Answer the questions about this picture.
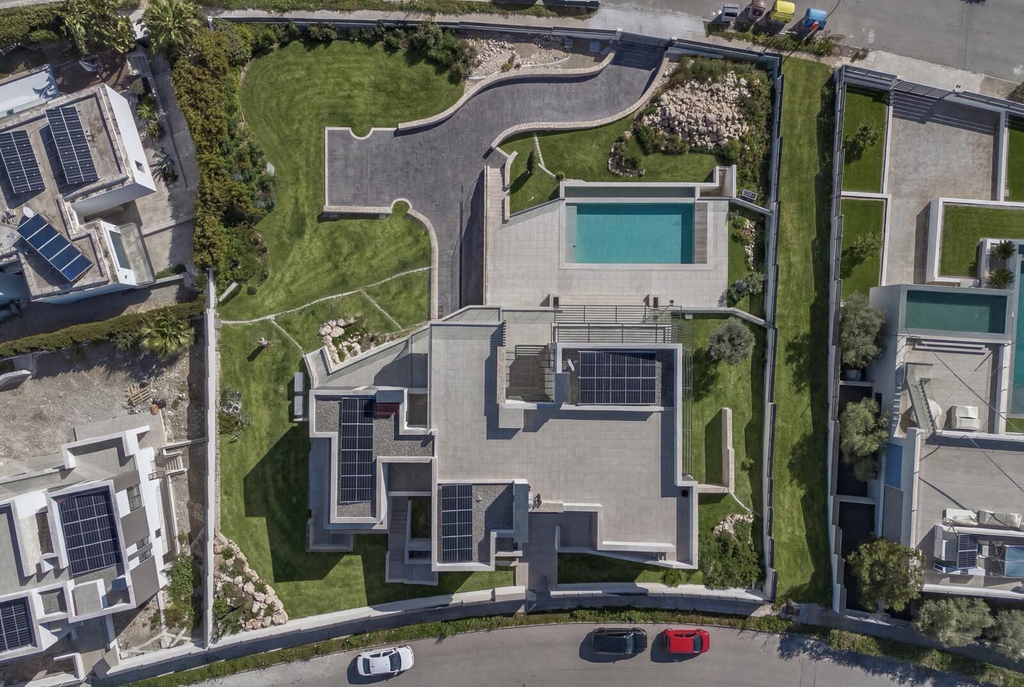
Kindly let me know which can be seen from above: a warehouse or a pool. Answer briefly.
pool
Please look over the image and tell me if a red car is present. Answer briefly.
Yes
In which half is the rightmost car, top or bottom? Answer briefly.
bottom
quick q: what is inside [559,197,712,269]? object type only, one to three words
swimming pool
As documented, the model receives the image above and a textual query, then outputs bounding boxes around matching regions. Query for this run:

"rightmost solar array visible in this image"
[999,541,1024,578]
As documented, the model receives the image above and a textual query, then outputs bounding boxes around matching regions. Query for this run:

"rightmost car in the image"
[662,625,709,654]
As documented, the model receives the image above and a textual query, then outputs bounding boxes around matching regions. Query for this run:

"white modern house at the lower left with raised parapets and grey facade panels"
[0,424,178,656]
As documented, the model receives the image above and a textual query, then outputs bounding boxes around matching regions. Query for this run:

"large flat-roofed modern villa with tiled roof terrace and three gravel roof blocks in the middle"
[305,308,698,591]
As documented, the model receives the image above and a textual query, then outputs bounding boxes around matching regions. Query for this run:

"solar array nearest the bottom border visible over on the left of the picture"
[0,598,35,648]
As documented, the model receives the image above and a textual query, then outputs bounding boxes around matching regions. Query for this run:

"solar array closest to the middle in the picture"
[577,351,657,405]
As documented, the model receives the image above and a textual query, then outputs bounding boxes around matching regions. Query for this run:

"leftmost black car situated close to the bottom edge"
[590,624,647,655]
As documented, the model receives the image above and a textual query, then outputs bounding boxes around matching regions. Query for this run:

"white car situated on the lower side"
[356,643,415,675]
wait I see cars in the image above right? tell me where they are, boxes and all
[662,625,709,654]
[590,624,647,655]
[356,643,415,675]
